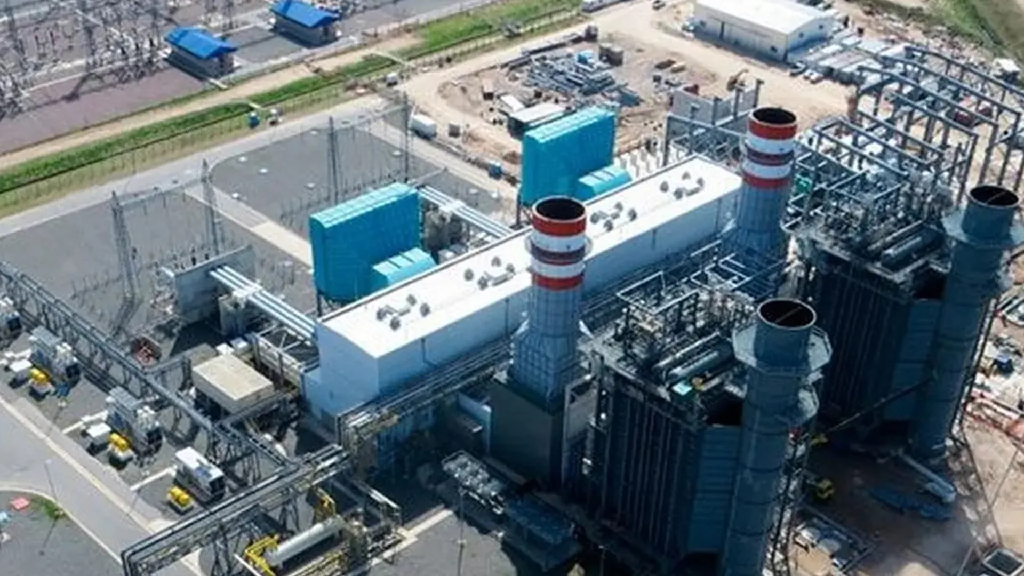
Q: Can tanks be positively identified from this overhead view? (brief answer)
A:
Yes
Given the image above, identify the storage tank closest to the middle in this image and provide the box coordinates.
[424,211,466,250]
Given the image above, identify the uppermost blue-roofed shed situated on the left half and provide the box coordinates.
[269,1,338,45]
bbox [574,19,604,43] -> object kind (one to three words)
truck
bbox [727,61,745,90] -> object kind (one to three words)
work vehicle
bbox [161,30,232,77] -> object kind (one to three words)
shed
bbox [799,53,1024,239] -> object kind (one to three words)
building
